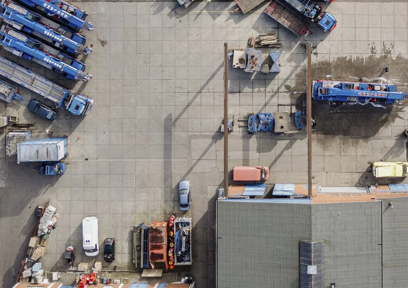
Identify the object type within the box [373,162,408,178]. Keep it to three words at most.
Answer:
vehicle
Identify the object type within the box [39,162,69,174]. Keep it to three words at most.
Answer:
vehicle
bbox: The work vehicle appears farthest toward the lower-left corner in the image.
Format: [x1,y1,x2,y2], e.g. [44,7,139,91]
[63,243,76,268]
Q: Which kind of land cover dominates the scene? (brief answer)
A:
paved ground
